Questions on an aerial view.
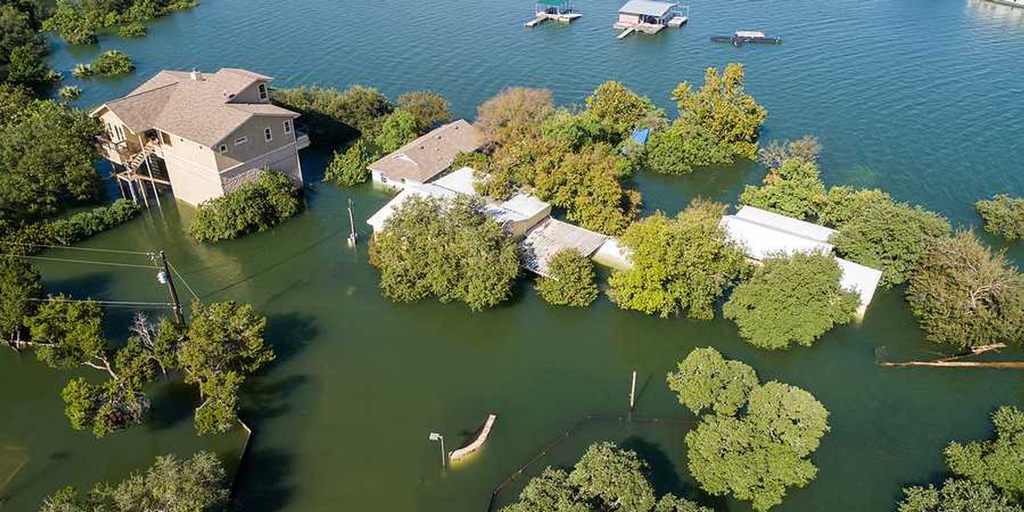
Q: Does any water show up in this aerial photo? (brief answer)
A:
Yes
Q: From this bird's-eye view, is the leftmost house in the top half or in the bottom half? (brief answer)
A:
top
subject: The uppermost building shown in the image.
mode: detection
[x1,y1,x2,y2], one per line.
[612,0,696,37]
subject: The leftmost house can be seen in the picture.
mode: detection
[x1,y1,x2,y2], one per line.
[87,66,312,214]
